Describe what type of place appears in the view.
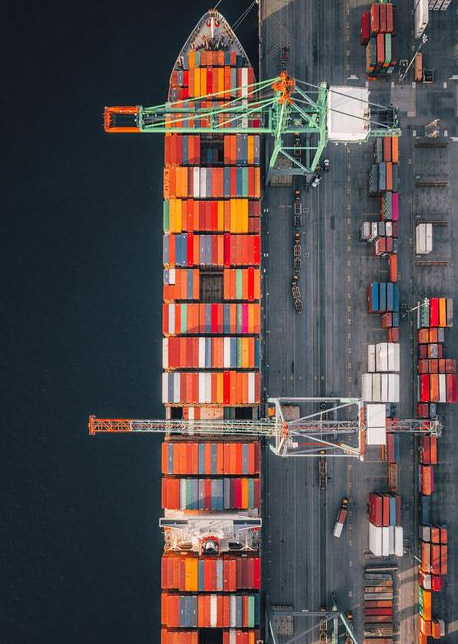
port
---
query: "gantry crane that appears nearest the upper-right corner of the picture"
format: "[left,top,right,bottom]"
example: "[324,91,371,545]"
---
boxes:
[103,69,405,192]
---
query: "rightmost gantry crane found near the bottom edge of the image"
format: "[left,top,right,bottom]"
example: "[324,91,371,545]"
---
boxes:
[268,598,362,644]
